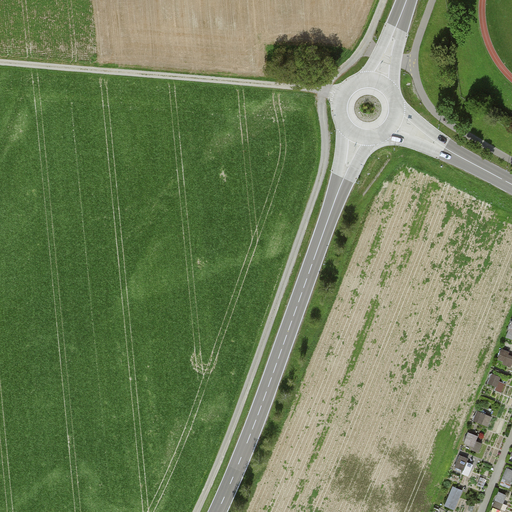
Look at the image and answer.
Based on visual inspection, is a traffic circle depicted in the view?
Yes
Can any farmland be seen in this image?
Yes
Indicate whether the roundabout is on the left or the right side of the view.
right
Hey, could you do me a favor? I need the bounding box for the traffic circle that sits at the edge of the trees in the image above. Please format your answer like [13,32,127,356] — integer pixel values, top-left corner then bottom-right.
[330,23,449,182]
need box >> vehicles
[440,152,452,159]
[437,134,448,143]
[391,136,404,142]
